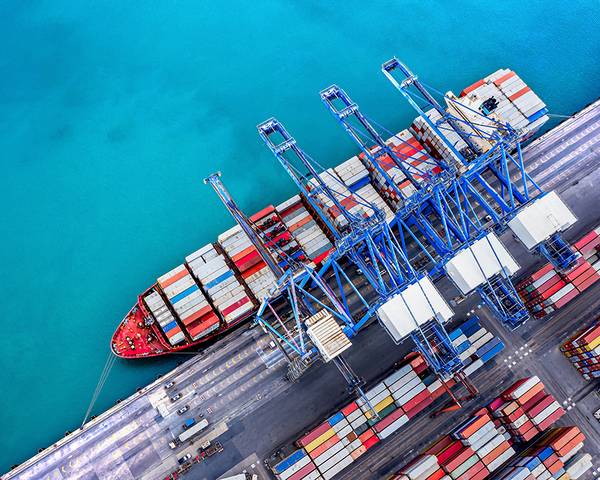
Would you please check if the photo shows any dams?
No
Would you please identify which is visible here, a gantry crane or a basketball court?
gantry crane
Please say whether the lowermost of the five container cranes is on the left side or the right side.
right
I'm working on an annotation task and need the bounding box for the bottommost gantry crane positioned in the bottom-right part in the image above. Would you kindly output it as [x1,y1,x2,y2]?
[401,348,482,425]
